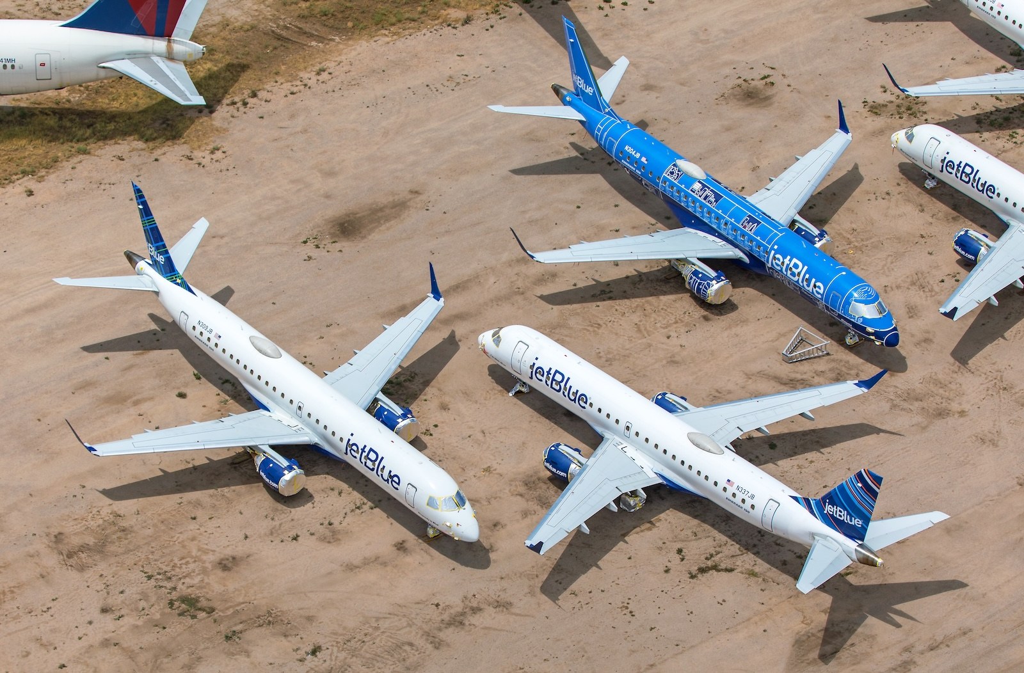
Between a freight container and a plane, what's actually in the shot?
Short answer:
plane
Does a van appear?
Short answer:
No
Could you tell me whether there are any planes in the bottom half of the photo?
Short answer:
Yes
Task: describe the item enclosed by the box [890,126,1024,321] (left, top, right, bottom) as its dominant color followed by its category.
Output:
white airplane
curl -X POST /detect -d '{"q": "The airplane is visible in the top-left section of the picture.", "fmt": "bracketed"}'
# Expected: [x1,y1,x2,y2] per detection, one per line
[0,0,212,109]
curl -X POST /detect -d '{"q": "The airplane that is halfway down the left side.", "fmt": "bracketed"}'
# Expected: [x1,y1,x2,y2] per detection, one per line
[52,181,482,545]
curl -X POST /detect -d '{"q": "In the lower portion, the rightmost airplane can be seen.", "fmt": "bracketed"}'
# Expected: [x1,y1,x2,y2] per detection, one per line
[478,327,949,593]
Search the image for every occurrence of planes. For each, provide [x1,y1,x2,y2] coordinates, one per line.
[0,0,212,109]
[478,327,949,593]
[52,181,482,545]
[890,126,1024,321]
[488,16,901,351]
